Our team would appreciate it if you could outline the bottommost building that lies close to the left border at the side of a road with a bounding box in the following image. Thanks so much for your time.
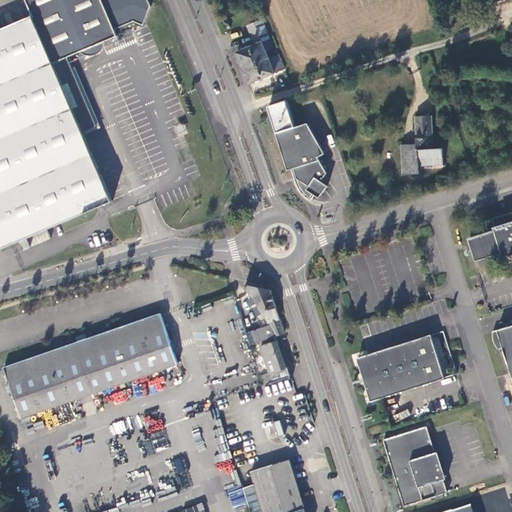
[5,313,178,418]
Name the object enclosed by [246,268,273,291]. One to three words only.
house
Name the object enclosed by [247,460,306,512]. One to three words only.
building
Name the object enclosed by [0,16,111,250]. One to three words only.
warehouse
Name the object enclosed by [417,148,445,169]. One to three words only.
barn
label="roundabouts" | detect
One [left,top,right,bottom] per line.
[245,206,313,274]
